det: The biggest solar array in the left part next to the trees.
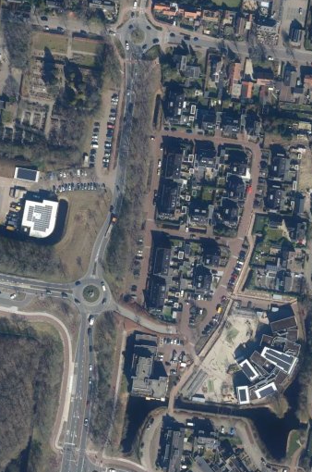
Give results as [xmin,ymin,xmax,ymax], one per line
[28,205,50,234]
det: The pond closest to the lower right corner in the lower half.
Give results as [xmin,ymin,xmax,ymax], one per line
[251,406,306,463]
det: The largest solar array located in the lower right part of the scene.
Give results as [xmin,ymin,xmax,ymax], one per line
[263,349,294,370]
